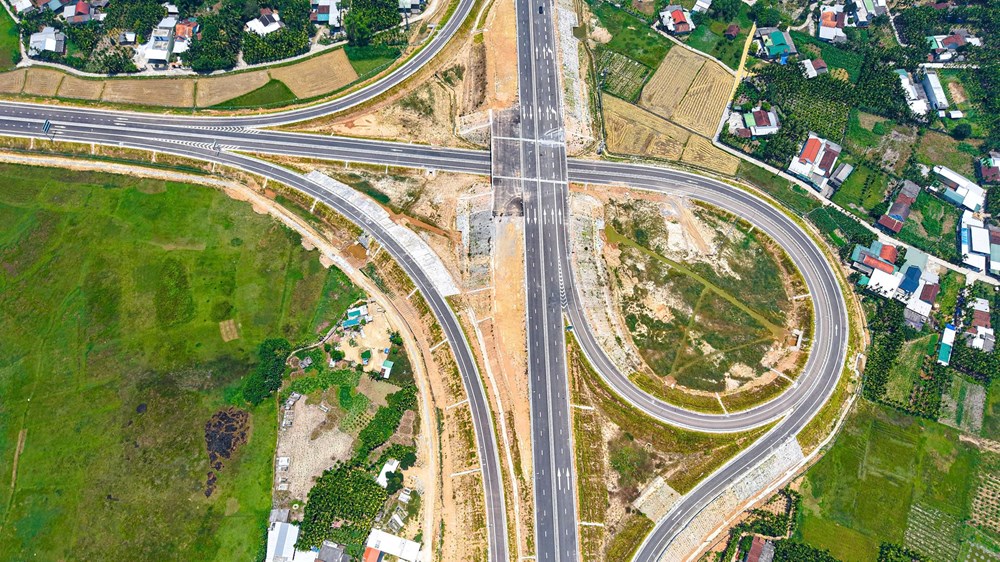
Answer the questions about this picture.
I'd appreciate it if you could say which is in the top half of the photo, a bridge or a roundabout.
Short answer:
bridge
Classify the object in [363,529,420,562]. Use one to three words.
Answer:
barn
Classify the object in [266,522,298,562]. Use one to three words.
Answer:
barn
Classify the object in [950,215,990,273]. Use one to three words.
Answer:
house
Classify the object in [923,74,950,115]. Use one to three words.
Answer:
house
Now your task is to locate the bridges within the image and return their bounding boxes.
[491,107,568,216]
